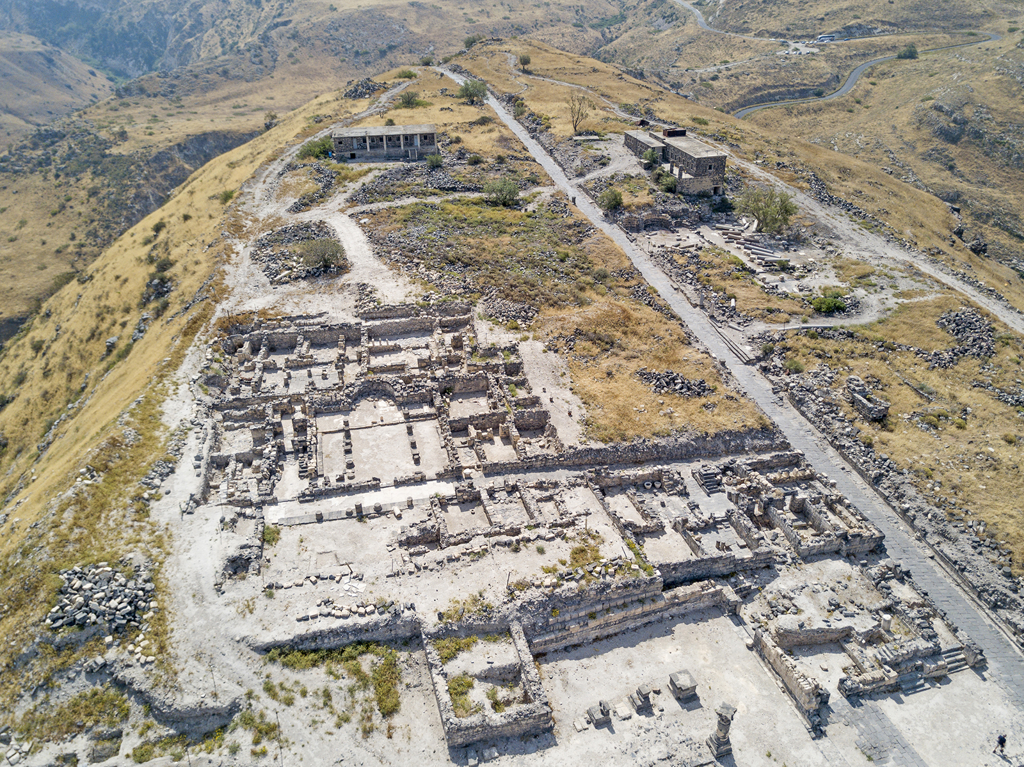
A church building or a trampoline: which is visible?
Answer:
church building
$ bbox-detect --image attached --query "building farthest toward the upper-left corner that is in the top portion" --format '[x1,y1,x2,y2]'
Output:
[332,124,438,161]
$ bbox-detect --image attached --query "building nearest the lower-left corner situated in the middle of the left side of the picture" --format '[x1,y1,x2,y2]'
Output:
[210,400,315,511]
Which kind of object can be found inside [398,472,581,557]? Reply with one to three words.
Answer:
house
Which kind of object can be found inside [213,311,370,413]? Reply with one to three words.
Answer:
house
